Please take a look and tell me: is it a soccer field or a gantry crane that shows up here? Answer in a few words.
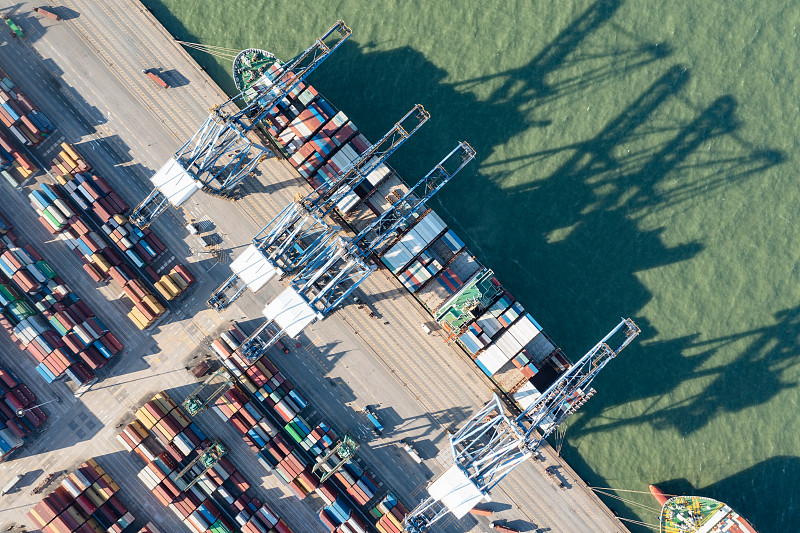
gantry crane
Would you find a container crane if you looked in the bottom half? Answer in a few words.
Yes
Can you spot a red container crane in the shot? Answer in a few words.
No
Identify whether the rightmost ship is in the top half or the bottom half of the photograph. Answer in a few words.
bottom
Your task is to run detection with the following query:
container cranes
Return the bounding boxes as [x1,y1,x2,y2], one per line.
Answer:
[123,16,356,234]
[398,317,643,533]
[200,101,434,318]
[173,431,237,492]
[180,363,242,418]
[234,139,479,367]
[309,426,361,485]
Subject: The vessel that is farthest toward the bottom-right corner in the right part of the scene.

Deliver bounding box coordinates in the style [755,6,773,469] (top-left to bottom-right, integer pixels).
[648,483,759,533]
